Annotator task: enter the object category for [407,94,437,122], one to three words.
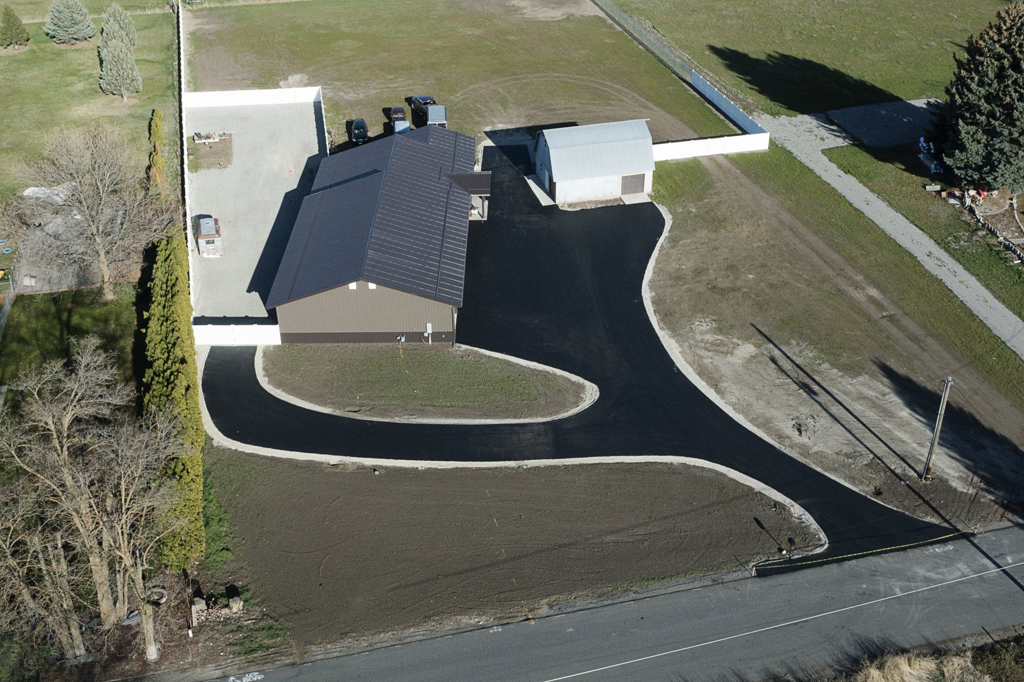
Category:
truck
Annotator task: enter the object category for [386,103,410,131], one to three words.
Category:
car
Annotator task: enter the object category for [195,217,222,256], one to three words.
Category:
trailer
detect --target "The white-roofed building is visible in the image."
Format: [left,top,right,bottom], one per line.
[525,117,657,205]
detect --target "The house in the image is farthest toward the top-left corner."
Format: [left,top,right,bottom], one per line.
[264,123,493,346]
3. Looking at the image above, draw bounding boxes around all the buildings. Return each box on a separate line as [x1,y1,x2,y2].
[525,117,657,205]
[264,123,493,346]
